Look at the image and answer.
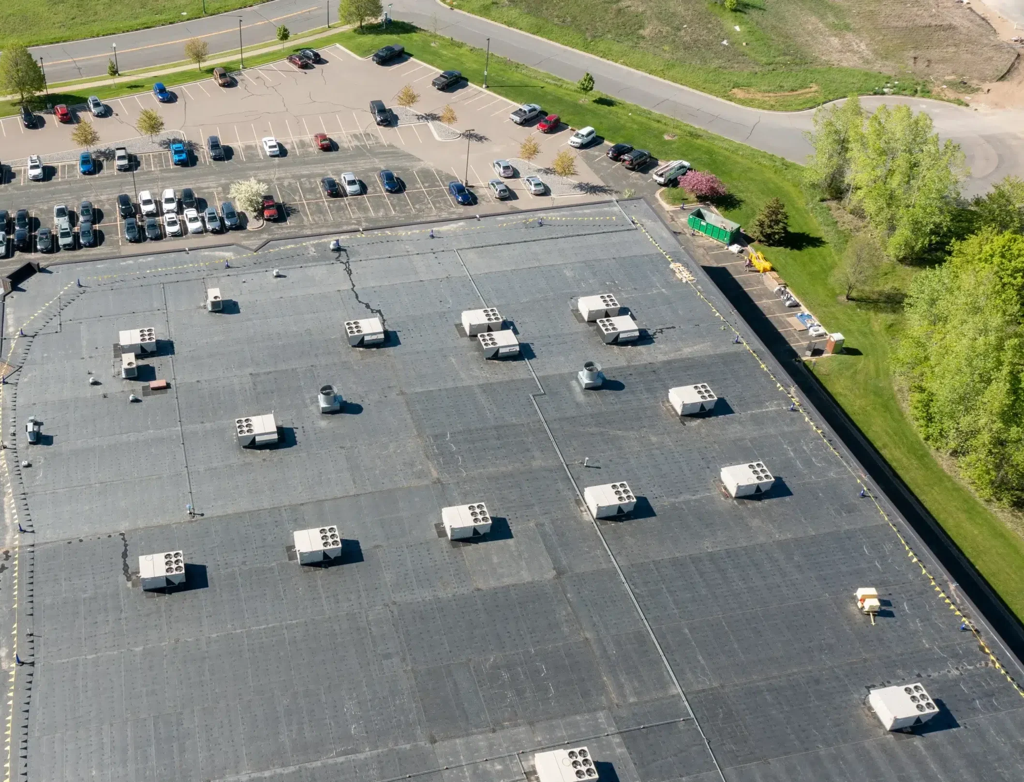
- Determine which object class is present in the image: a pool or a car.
car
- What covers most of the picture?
buildings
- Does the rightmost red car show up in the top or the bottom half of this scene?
top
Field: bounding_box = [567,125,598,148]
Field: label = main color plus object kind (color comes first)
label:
white car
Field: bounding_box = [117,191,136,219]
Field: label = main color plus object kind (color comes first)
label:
black car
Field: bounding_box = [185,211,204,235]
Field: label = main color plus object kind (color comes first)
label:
white car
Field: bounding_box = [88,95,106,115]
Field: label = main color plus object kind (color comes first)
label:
gray car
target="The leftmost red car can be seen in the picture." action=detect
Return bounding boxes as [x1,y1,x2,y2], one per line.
[54,105,71,123]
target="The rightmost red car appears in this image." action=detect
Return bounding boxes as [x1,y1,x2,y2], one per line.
[535,112,563,133]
